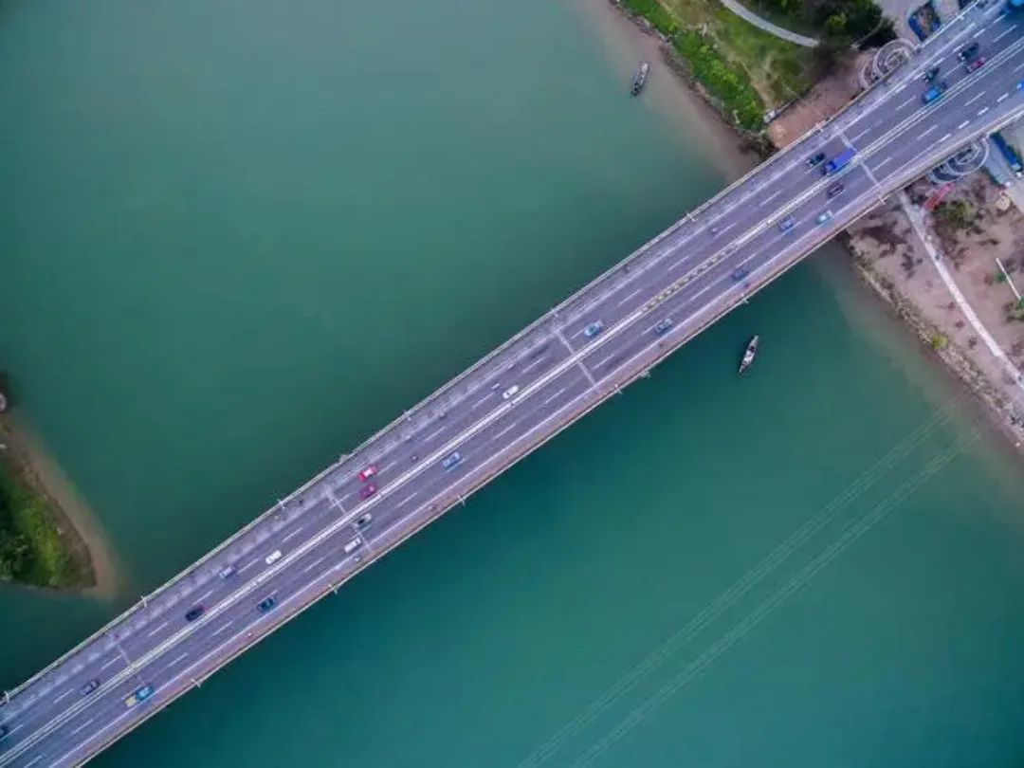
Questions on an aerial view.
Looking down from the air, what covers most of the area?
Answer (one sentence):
The largest share of the image is taken up by water.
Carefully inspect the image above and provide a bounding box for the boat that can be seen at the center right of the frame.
[737,333,759,375]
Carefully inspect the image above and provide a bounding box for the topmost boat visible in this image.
[633,61,650,97]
